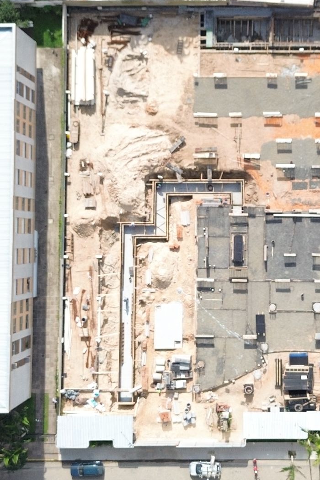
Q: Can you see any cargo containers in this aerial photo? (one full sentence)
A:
No, there isn't any cargo container down there.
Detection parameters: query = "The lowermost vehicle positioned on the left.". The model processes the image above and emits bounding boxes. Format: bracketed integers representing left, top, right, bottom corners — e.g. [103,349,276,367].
[72,461,106,479]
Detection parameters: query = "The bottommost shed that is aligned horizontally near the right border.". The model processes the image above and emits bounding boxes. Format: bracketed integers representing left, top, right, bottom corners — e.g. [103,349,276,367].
[243,408,309,440]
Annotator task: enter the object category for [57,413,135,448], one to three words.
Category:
shed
